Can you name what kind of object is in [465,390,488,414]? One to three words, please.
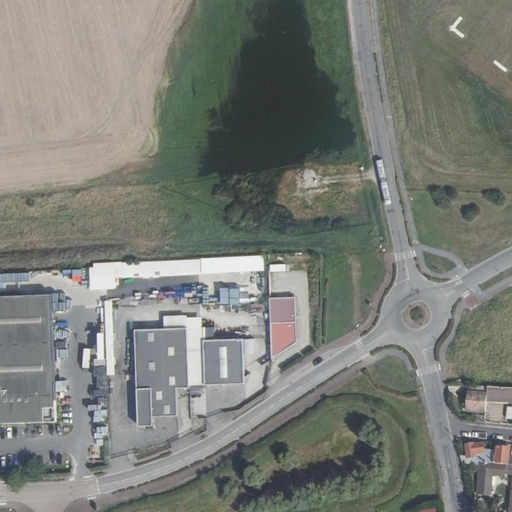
house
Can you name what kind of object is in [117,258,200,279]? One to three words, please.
shed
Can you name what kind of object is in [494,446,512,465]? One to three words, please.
house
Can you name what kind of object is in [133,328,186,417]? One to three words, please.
building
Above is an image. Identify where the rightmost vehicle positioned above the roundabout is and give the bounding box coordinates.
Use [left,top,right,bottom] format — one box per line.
[376,160,392,206]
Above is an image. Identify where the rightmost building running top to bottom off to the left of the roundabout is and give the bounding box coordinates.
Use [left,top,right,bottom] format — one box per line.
[270,297,296,358]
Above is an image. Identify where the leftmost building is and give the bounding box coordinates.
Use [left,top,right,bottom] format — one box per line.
[0,294,56,425]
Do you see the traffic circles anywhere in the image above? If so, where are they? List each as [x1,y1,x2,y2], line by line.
[366,254,466,366]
